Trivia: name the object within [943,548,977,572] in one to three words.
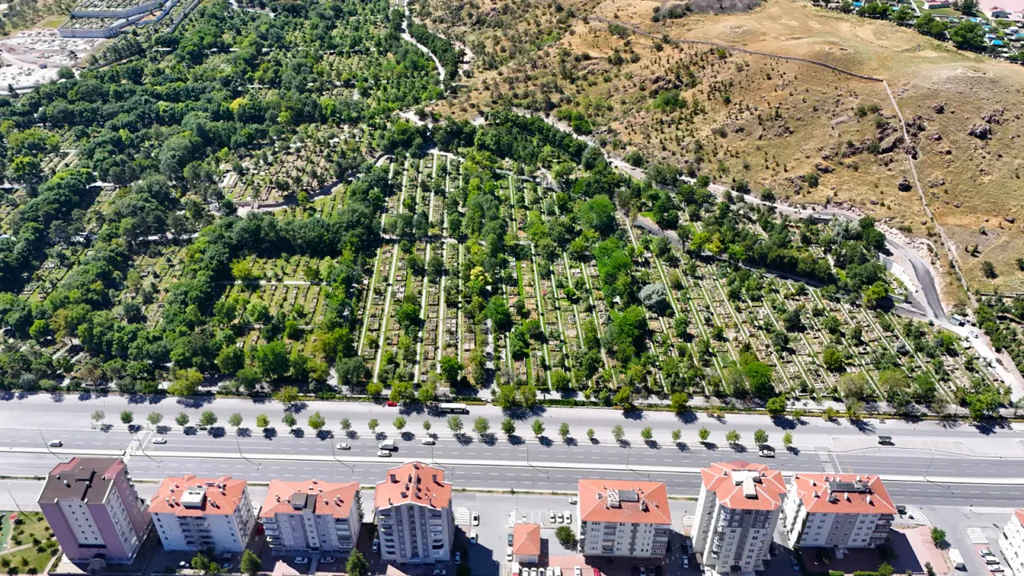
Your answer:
truck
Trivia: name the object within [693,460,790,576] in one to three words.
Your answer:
building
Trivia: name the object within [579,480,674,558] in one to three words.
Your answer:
building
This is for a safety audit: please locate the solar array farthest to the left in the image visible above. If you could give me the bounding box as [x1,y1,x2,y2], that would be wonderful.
[618,488,643,502]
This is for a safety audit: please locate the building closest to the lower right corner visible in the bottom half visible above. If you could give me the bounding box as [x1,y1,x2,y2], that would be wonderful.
[994,508,1024,575]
